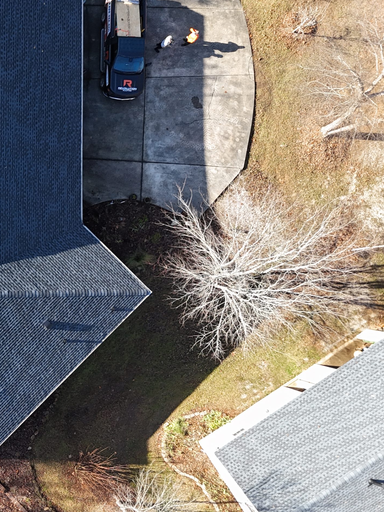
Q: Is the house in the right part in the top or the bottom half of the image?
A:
bottom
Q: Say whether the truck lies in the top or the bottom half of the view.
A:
top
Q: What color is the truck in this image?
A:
black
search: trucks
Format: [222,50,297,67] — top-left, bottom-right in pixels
[100,0,152,103]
